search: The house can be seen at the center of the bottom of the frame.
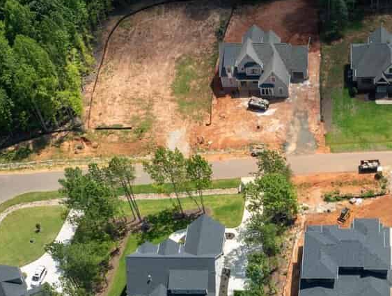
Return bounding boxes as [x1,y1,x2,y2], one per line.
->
[123,215,228,296]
